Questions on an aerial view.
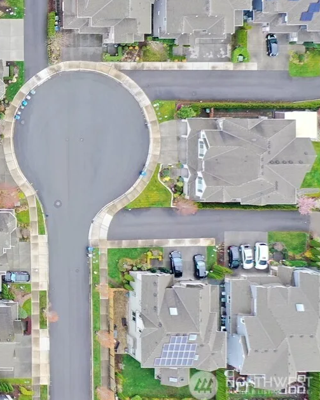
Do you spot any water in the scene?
No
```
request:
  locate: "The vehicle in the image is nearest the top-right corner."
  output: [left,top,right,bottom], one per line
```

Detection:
[265,33,279,56]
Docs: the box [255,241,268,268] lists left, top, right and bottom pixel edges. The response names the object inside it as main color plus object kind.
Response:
white vehicle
